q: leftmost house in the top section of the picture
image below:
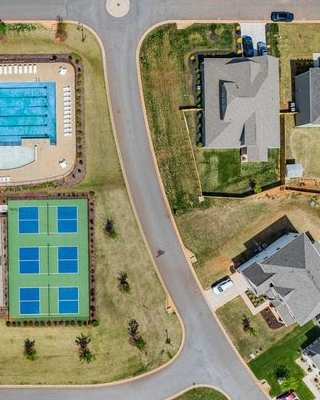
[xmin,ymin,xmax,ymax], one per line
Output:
[200,53,279,163]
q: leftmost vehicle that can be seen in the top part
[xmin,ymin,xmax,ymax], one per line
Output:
[242,35,254,55]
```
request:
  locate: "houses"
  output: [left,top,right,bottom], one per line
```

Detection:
[236,234,320,333]
[297,55,320,126]
[304,342,320,384]
[200,53,279,163]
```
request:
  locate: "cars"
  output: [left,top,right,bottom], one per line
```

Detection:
[269,11,293,22]
[275,391,297,400]
[255,43,267,55]
[211,278,234,295]
[242,35,254,55]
